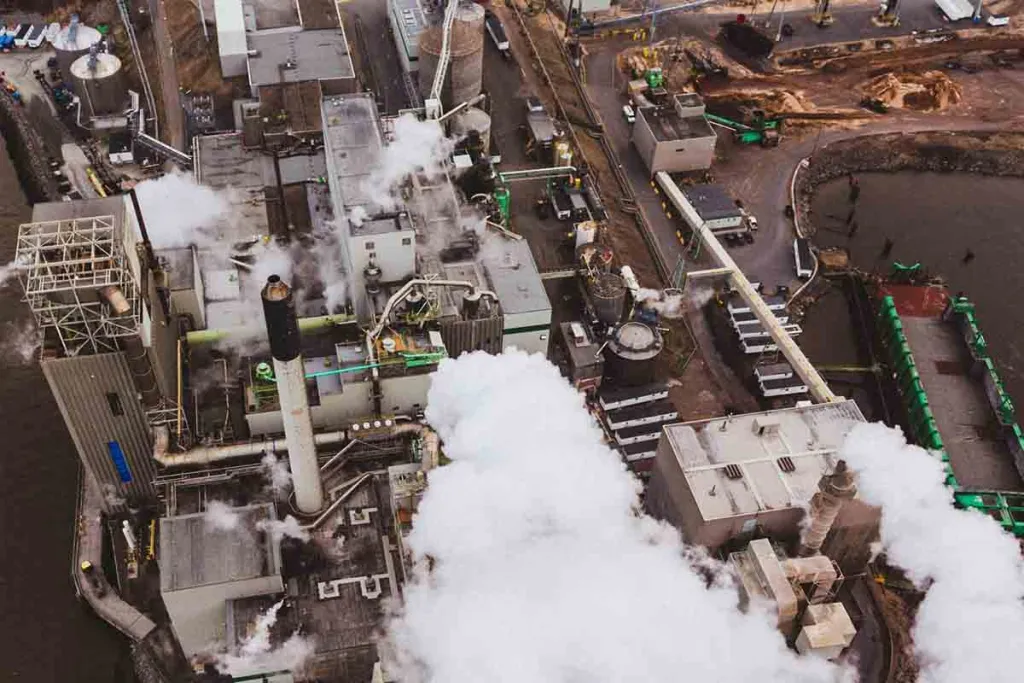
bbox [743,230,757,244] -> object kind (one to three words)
car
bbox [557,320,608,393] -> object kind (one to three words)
house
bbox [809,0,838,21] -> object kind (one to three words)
crane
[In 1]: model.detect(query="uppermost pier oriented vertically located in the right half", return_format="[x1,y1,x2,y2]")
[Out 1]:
[839,270,893,429]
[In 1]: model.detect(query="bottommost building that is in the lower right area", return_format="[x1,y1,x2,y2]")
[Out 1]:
[796,598,858,682]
